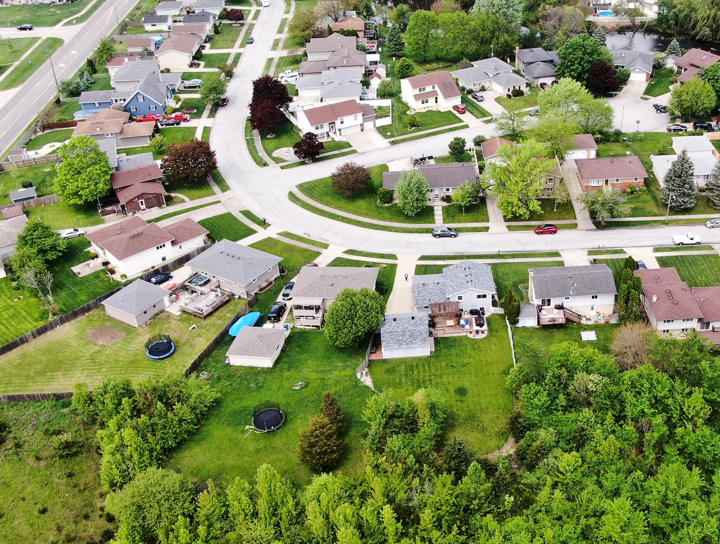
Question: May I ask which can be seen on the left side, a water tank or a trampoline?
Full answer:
It is a trampoline that can be seen on the left side.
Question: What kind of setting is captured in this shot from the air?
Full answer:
It's a residential area.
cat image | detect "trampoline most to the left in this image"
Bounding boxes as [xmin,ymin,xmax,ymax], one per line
[145,334,175,360]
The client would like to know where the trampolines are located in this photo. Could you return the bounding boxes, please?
[251,400,285,434]
[145,334,175,360]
